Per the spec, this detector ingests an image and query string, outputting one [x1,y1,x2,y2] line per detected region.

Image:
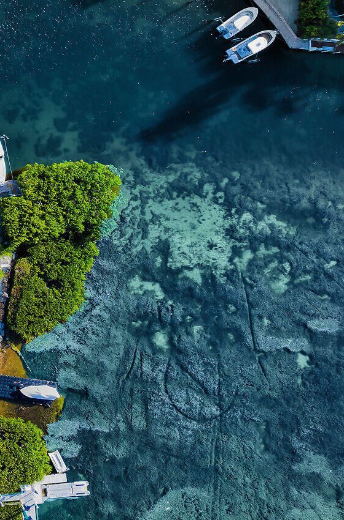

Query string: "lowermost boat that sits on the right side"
[217,30,276,64]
